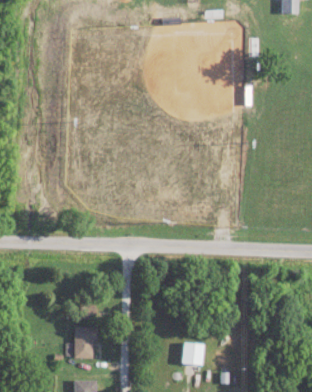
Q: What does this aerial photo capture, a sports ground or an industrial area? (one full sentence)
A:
This looks like a sports ground.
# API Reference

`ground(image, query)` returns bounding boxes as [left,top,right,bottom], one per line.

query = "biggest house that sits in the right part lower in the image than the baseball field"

[182,342,204,367]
